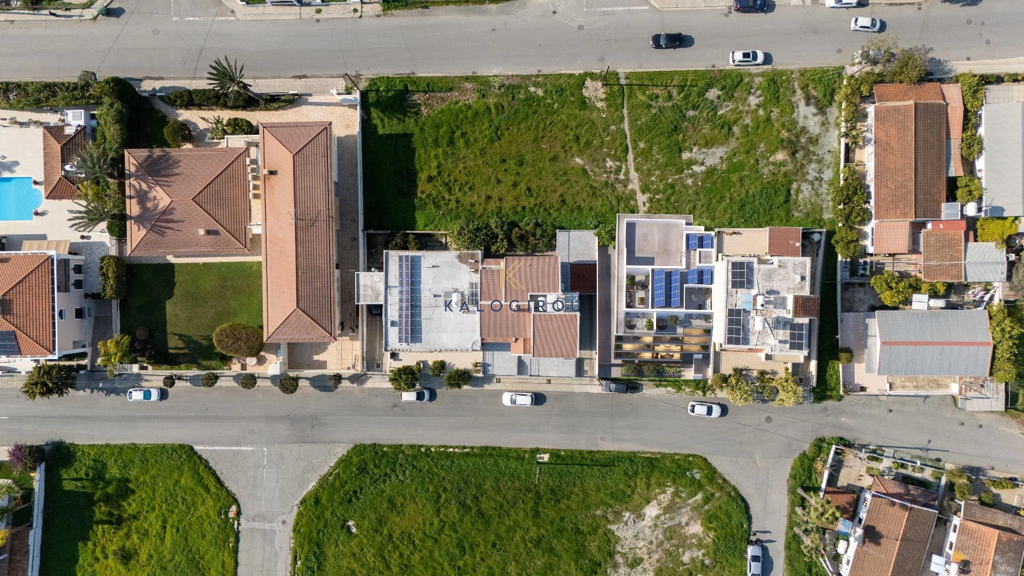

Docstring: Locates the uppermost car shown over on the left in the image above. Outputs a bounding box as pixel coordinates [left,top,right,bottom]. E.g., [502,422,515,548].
[368,304,384,326]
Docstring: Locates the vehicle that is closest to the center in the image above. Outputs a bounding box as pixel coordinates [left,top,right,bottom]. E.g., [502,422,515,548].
[502,391,534,408]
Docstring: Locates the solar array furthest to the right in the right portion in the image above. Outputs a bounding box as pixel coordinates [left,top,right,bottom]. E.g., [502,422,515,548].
[791,323,806,351]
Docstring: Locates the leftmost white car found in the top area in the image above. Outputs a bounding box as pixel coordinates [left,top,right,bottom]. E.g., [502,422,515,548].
[729,48,764,66]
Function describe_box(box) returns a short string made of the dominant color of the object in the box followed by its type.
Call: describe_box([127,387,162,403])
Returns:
white car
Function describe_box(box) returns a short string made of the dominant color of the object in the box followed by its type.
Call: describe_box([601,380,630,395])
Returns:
gray car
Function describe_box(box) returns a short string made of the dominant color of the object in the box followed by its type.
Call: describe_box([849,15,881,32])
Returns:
white car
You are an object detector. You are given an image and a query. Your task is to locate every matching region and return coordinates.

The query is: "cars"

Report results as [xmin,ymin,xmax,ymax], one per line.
[502,391,534,408]
[399,388,430,404]
[127,387,162,403]
[849,15,881,32]
[747,545,764,576]
[732,0,766,13]
[650,30,684,48]
[601,380,630,395]
[824,0,859,9]
[368,304,384,326]
[687,401,721,419]
[729,48,764,66]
